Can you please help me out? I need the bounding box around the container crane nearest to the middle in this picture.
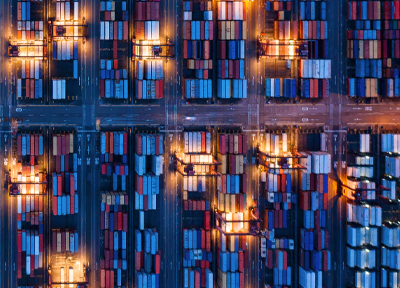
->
[173,156,220,176]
